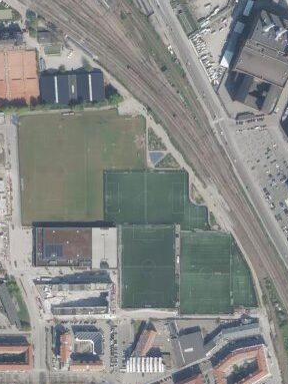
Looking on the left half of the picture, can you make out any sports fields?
Yes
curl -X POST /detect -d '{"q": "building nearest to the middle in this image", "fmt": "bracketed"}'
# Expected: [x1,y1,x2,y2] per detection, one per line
[92,227,118,268]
